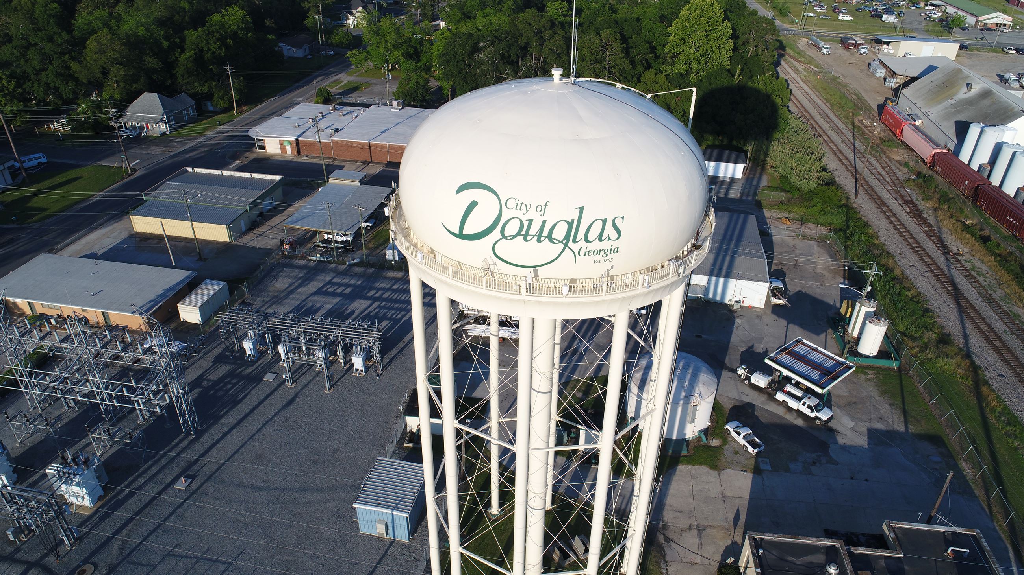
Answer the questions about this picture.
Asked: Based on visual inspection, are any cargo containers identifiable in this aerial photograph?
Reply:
Yes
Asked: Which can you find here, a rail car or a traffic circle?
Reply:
rail car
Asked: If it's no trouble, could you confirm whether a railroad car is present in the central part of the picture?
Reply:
No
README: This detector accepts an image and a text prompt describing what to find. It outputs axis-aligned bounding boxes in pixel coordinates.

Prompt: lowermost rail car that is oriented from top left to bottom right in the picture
[974,182,1024,237]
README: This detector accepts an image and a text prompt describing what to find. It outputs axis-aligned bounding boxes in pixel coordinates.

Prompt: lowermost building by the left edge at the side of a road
[0,252,199,328]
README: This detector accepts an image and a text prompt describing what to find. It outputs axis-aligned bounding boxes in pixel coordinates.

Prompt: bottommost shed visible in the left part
[351,448,435,544]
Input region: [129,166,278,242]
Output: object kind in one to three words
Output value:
building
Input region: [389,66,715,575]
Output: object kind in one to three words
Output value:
water tower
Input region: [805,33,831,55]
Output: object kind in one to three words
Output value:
truck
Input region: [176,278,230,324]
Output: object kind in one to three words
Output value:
shipping container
